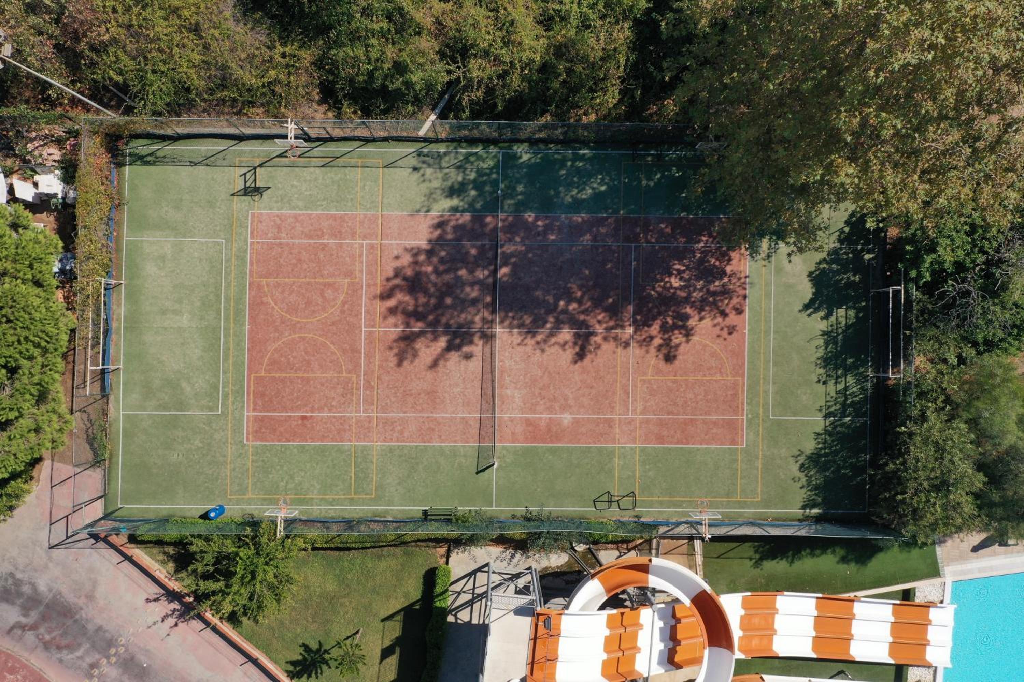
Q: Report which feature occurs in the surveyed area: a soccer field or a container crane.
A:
soccer field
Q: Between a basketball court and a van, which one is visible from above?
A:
basketball court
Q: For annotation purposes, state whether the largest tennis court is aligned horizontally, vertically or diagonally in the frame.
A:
horizontally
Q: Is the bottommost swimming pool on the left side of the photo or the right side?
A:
right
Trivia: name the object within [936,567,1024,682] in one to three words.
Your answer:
swimming pool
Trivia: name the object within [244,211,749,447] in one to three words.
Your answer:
tennis court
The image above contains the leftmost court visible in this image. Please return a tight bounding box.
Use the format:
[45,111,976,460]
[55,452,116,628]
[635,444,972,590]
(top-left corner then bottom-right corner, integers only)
[228,158,382,498]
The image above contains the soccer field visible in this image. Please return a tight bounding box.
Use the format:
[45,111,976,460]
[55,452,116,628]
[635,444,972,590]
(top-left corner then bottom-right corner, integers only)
[104,139,884,526]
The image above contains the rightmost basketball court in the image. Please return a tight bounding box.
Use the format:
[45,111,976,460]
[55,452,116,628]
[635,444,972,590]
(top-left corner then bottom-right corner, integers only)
[616,161,766,501]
